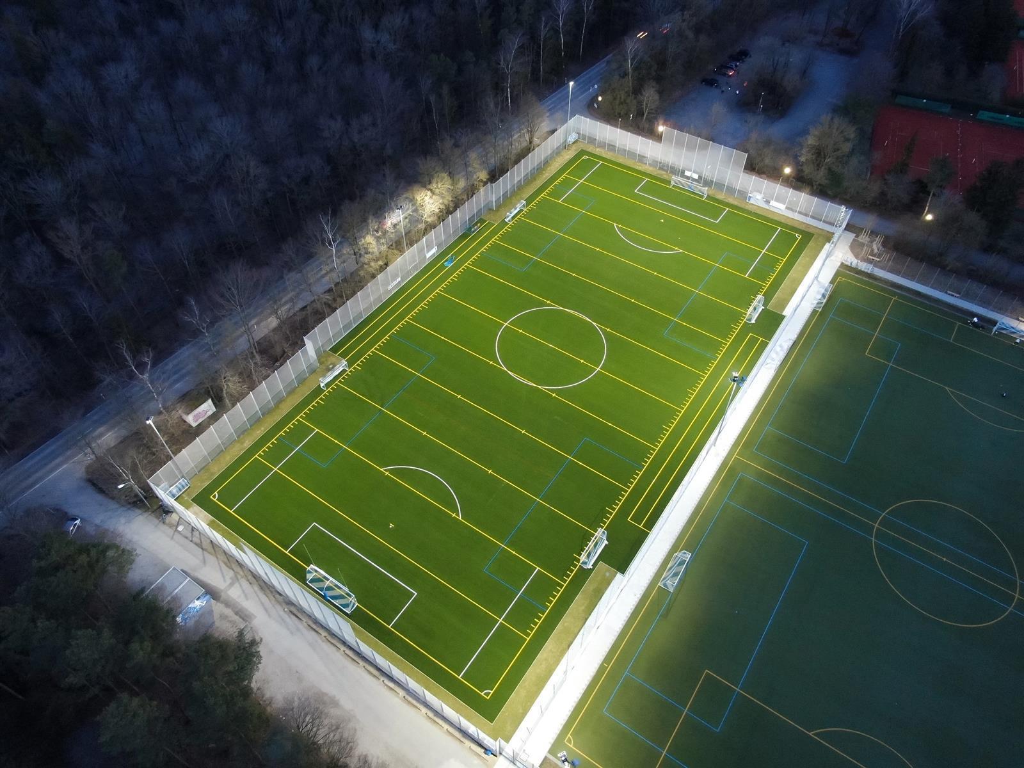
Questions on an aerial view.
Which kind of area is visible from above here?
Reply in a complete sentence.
The picture captures a sports ground.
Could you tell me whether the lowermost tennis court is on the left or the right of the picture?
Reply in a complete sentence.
It is on the right.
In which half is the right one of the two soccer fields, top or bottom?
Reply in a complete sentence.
You can find the right one of the two soccer fields in the bottom half.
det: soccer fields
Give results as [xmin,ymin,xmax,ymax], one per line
[557,272,1024,768]
[190,149,817,726]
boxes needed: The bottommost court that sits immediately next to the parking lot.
[870,98,1024,206]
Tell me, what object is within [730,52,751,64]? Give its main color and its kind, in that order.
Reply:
black vehicle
